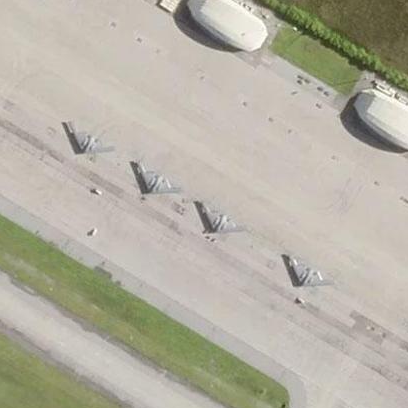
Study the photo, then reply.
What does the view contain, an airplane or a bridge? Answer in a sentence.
The one in the frame is an airplane.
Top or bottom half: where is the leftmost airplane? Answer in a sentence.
It is in the top half that the leftmost airplane appears.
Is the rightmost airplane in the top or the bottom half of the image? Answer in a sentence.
It is in the bottom half that the rightmost airplane appears.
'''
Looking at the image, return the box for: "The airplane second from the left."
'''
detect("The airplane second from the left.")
[134,165,182,194]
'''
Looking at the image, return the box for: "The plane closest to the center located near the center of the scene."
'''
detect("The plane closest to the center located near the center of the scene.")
[197,204,245,233]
